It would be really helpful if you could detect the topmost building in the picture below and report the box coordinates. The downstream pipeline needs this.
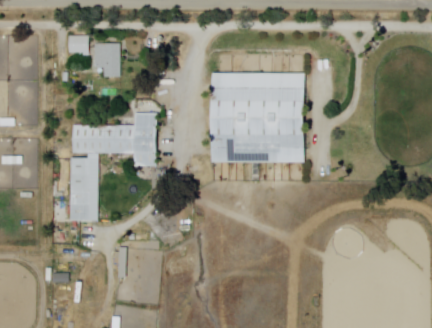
[68,34,88,54]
